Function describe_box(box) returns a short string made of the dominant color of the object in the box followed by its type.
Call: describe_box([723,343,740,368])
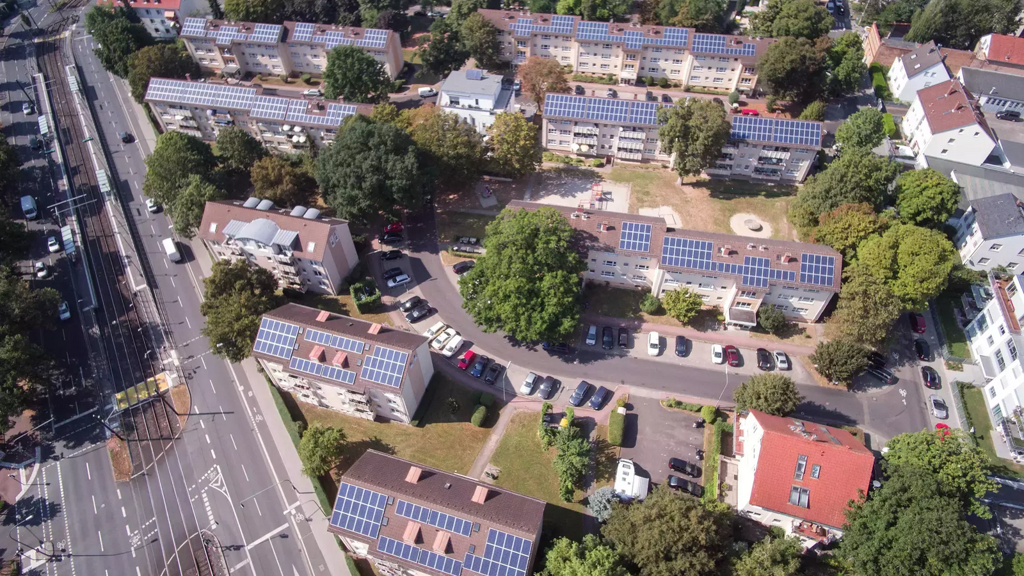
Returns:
red car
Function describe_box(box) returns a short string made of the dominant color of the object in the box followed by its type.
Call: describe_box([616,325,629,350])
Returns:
black vehicle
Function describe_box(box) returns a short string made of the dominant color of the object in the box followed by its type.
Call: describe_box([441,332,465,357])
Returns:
white vehicle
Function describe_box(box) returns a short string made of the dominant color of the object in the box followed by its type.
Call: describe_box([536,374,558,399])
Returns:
gray car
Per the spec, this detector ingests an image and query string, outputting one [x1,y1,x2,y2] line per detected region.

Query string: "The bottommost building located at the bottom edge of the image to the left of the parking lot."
[329,451,546,576]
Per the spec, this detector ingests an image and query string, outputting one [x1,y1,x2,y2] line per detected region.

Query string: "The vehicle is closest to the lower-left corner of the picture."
[54,301,72,320]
